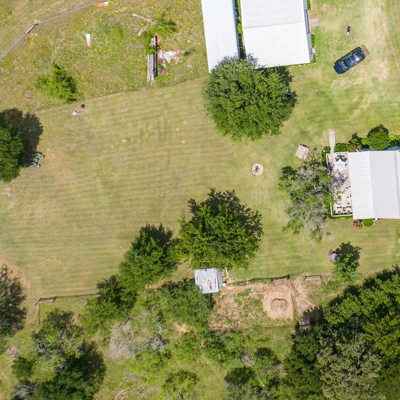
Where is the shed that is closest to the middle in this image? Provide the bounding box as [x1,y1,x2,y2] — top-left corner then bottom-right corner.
[194,263,223,294]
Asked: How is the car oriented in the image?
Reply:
at an angle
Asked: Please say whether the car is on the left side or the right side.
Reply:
right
